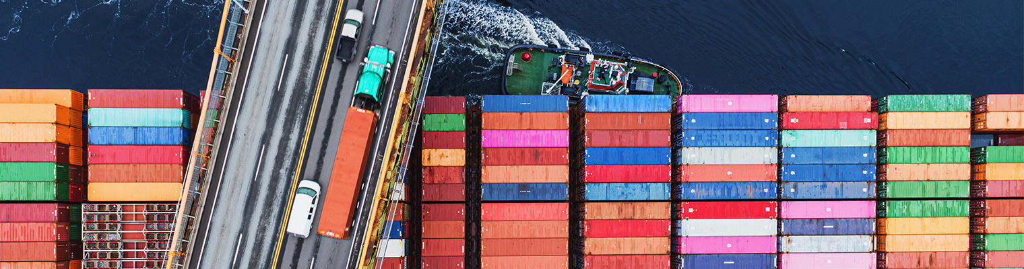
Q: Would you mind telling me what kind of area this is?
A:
port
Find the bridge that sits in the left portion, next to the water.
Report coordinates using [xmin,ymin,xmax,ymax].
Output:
[161,0,452,269]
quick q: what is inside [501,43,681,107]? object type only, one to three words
boat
